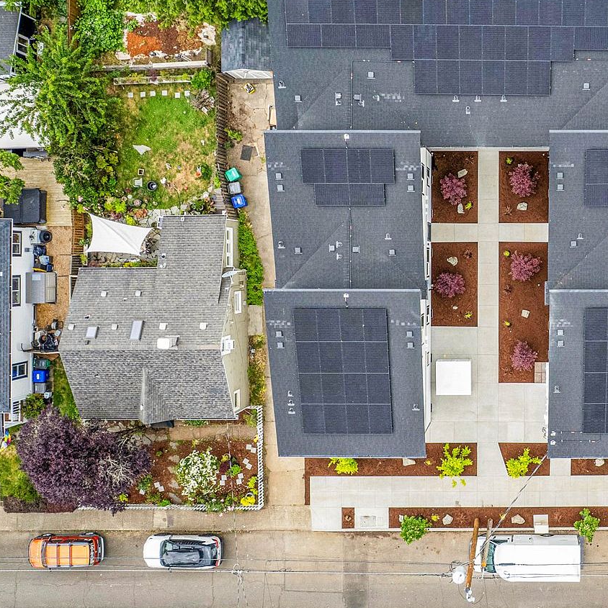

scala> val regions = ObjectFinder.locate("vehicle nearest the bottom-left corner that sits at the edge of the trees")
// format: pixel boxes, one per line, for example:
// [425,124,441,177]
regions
[29,530,108,572]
